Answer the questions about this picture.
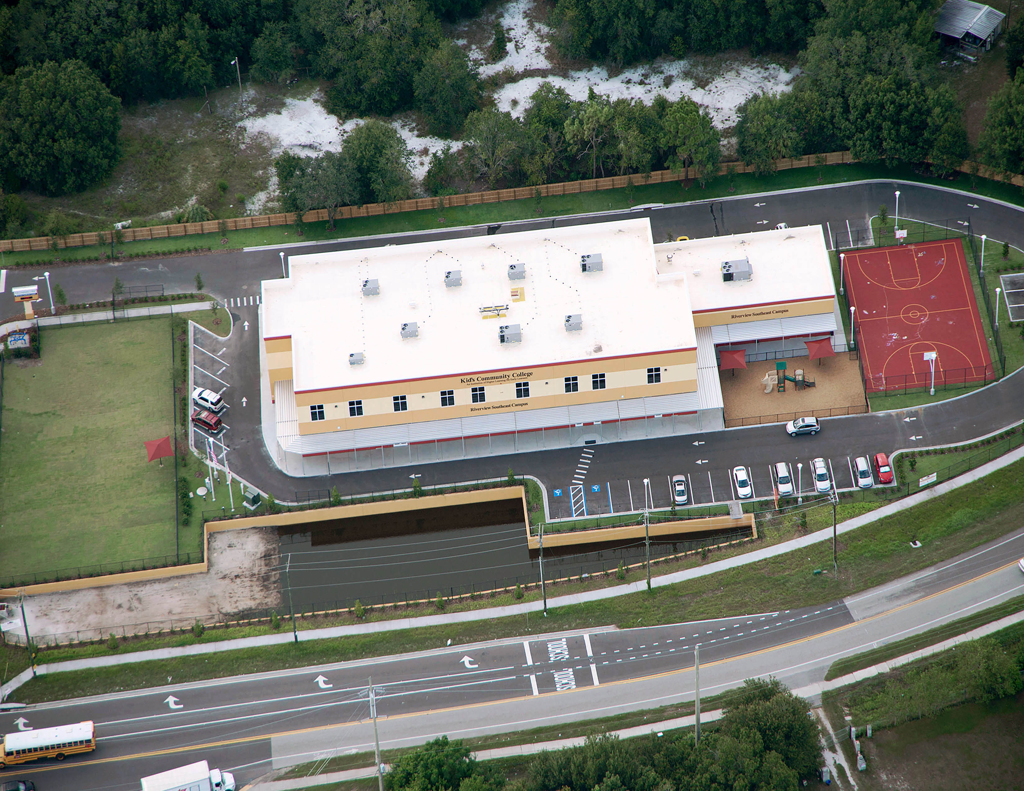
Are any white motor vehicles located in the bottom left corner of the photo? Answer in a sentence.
Yes, you'll find a white motor vehicle in the bottom left corner of the photo.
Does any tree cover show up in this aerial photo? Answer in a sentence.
Yes, tree cover can be seen from above here.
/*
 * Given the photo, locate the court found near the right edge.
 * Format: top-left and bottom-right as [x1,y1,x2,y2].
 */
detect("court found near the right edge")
[840,238,995,392]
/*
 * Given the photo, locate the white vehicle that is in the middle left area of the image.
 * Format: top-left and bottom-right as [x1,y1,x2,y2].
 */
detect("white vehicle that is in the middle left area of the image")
[190,386,225,411]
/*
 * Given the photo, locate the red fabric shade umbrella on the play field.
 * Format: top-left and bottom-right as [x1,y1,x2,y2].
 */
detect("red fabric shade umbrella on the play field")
[144,436,174,467]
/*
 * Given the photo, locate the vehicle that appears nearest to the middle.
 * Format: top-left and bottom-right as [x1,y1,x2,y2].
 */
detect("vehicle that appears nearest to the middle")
[671,472,689,504]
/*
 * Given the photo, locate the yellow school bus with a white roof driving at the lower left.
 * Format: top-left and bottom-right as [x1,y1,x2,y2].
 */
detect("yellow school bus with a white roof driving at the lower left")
[0,724,96,768]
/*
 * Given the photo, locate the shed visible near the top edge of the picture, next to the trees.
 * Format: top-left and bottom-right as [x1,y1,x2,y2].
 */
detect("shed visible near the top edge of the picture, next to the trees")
[934,0,1005,60]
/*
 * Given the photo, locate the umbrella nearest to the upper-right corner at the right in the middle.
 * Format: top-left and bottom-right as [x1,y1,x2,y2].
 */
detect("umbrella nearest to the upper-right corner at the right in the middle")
[804,337,835,366]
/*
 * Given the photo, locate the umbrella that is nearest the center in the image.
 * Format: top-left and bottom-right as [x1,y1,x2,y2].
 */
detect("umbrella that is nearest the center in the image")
[719,349,747,376]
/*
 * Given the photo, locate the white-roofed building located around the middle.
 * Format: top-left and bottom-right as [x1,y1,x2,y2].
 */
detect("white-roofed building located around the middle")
[261,217,837,475]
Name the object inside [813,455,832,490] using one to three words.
car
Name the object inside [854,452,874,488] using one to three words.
car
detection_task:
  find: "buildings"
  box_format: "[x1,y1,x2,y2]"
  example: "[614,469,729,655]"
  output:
[261,217,837,475]
[934,0,1005,60]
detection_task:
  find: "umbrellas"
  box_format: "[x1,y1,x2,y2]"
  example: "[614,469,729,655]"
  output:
[144,436,174,467]
[804,337,835,366]
[719,349,747,376]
